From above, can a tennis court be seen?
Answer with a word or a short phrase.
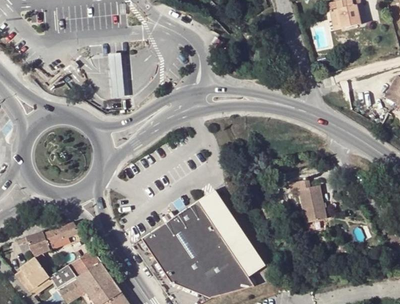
No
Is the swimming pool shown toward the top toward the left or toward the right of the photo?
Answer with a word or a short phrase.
right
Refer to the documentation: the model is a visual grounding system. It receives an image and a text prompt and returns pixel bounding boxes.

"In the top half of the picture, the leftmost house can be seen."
[328,0,362,31]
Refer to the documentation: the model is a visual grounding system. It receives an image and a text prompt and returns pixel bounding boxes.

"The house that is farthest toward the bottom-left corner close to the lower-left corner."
[15,257,52,292]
